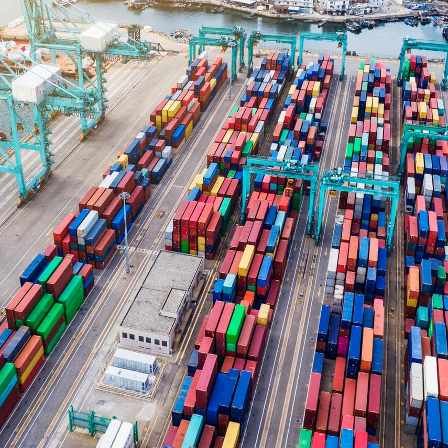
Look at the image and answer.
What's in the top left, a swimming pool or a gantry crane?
gantry crane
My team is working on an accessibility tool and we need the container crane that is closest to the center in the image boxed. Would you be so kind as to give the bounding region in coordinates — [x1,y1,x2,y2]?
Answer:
[239,158,318,236]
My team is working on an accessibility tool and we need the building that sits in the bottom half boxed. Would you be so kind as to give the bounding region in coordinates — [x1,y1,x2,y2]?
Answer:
[118,250,205,355]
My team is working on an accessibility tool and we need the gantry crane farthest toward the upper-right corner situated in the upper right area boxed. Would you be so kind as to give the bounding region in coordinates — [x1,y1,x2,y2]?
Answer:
[396,37,448,89]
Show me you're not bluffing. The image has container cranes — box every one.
[395,129,448,189]
[239,158,318,236]
[315,174,400,258]
[248,30,297,80]
[205,21,250,68]
[25,0,154,138]
[188,35,236,83]
[396,37,448,89]
[297,31,347,78]
[0,36,100,207]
